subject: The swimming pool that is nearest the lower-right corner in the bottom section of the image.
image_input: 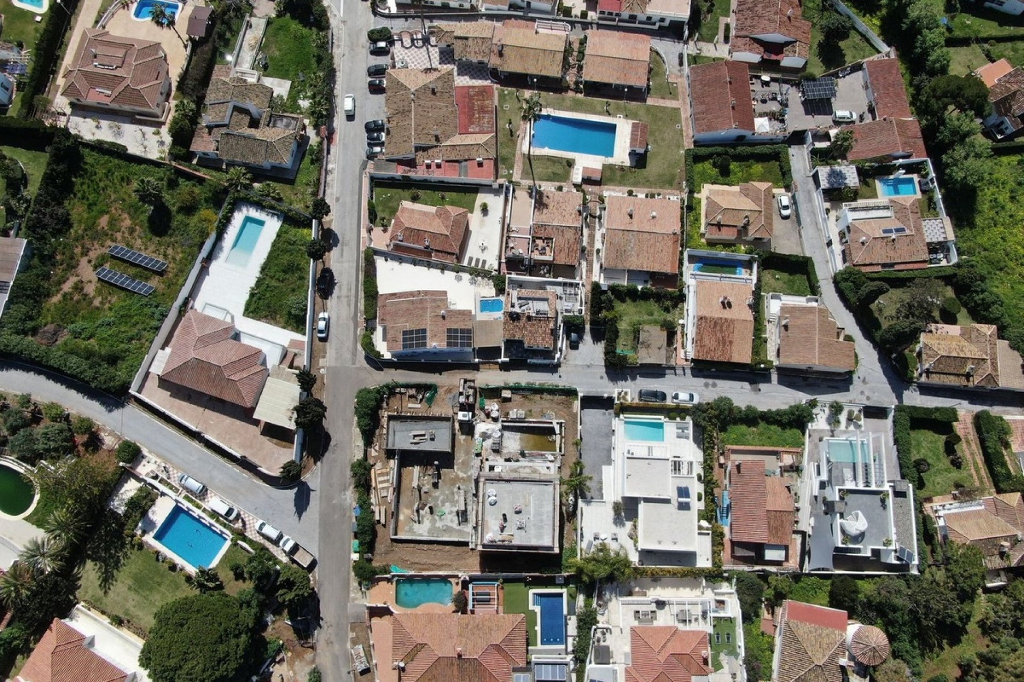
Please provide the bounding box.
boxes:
[827,438,869,464]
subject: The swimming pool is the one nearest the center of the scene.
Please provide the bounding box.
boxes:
[478,297,505,313]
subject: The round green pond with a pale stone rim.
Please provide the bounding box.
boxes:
[0,459,40,523]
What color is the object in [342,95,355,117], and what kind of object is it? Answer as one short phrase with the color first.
white vehicle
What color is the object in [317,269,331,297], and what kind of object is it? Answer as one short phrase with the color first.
black car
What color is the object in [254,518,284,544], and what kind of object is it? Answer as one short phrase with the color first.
white vehicle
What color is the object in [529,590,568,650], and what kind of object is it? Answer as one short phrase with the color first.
blue swimming pool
